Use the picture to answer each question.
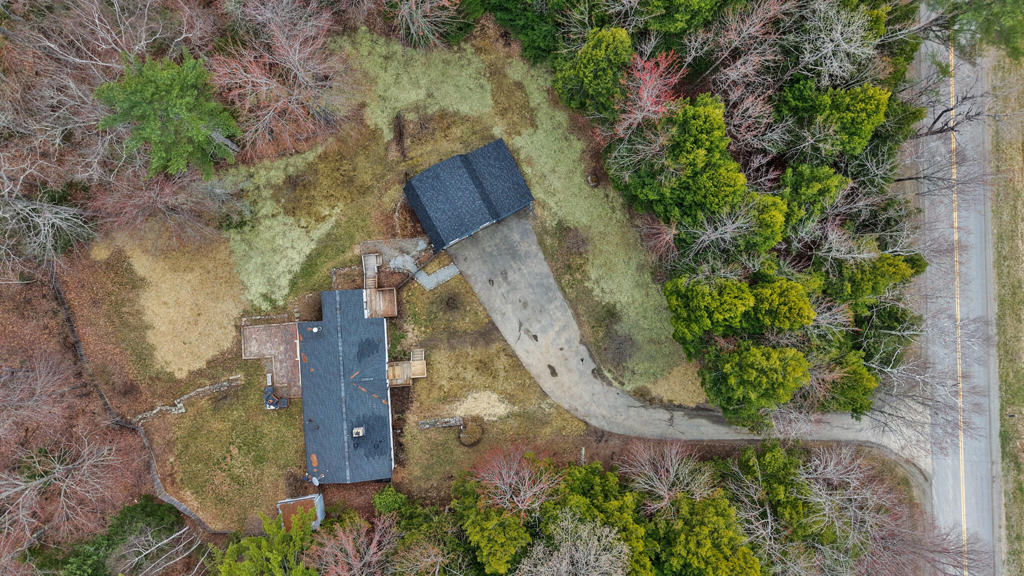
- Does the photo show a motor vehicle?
No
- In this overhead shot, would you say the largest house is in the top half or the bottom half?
bottom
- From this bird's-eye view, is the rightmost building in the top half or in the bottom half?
top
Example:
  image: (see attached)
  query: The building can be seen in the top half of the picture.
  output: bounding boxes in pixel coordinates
[403,138,534,255]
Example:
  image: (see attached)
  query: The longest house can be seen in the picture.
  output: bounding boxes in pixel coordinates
[297,290,395,483]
